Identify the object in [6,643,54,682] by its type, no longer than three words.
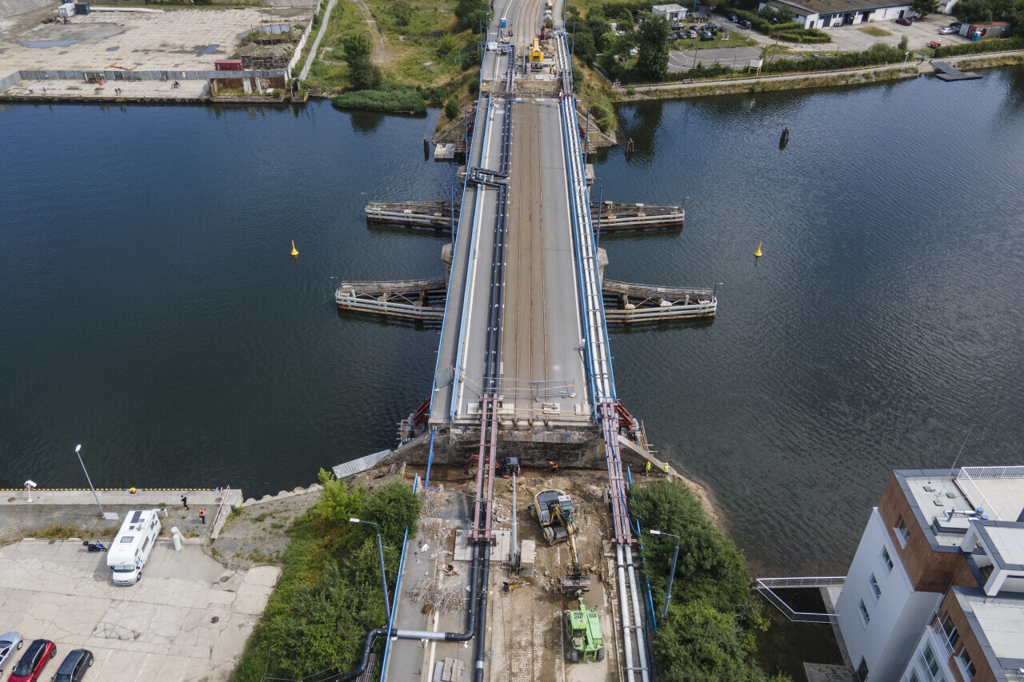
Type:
car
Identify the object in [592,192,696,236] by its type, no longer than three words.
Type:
pier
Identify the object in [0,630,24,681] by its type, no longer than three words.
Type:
car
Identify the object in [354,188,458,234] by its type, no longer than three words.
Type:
pier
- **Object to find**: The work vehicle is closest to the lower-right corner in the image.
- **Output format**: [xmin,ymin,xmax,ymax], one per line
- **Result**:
[556,587,605,663]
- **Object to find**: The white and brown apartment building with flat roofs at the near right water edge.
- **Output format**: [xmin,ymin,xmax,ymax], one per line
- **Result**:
[835,442,1024,682]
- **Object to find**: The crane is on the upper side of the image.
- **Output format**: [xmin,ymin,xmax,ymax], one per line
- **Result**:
[521,36,553,70]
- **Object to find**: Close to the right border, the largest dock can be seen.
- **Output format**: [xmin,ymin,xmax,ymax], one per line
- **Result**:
[933,61,982,83]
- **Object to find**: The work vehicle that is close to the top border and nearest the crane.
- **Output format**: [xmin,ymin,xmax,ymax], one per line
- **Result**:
[541,22,554,45]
